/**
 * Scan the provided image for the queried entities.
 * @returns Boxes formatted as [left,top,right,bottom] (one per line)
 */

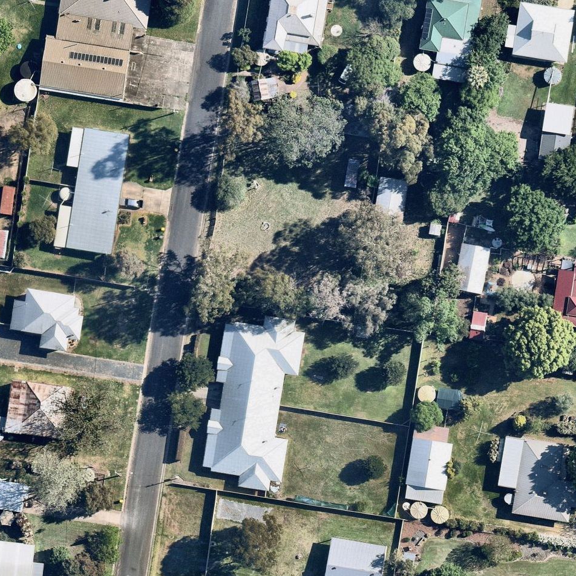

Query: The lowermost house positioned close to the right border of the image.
[499,437,576,523]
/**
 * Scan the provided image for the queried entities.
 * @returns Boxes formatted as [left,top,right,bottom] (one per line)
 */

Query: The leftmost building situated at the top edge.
[40,0,151,101]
